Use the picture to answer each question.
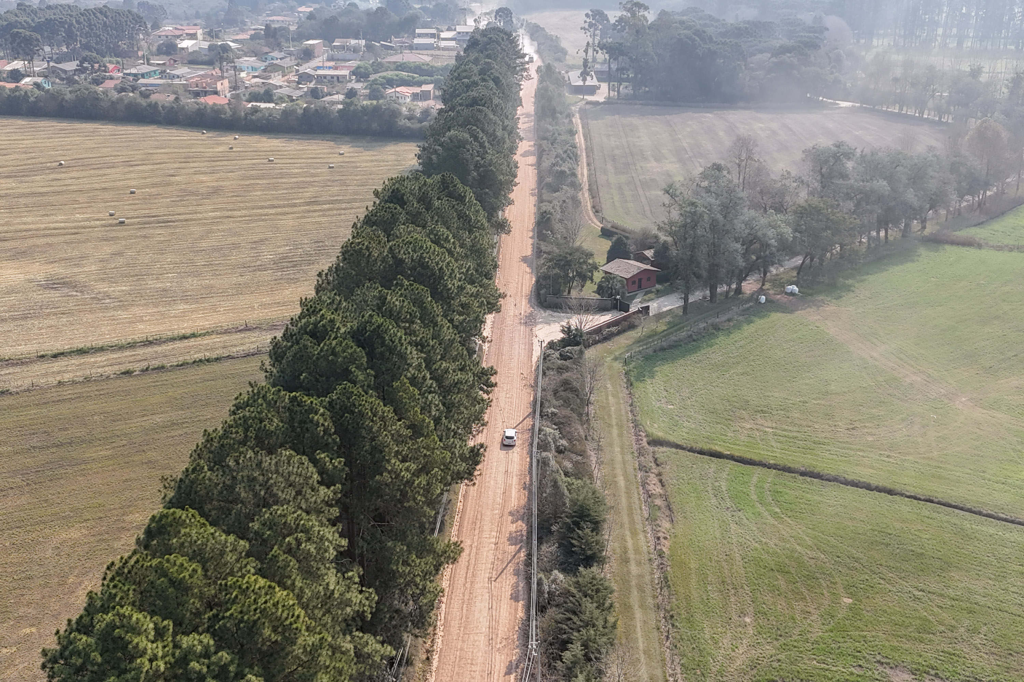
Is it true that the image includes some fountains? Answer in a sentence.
No, the scene contains no fountain.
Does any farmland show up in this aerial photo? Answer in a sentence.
Yes, the picture does contain farmland.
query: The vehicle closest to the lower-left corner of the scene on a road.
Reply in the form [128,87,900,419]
[501,428,518,447]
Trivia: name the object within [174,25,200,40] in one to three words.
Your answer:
house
